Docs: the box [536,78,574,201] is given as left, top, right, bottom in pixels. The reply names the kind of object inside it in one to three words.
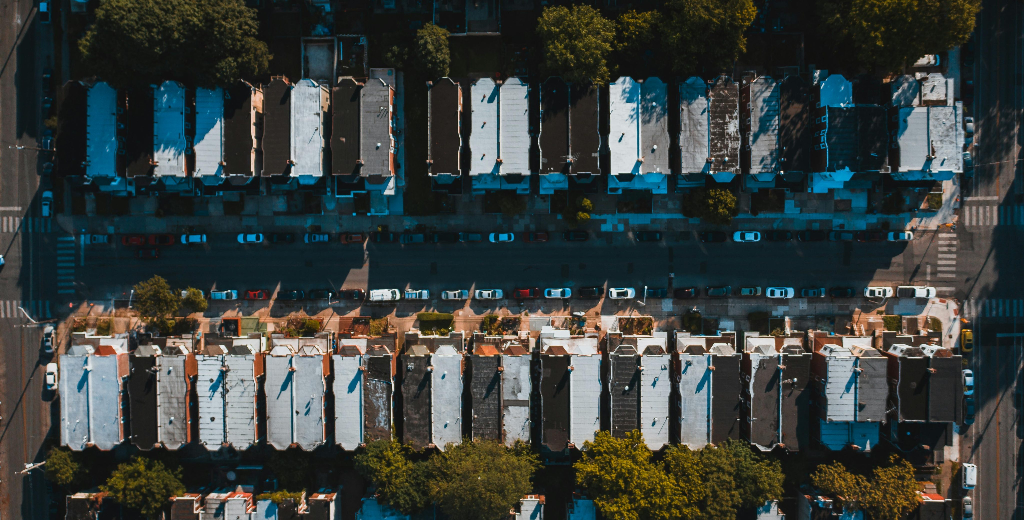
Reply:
house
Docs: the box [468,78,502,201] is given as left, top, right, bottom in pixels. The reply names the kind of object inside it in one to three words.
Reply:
house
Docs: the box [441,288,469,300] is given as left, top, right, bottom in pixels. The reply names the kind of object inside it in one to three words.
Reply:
vehicle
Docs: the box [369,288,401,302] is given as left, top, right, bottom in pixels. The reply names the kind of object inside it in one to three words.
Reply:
vehicle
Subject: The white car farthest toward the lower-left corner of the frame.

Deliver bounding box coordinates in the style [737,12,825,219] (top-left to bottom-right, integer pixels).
[44,362,59,390]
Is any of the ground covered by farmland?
No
